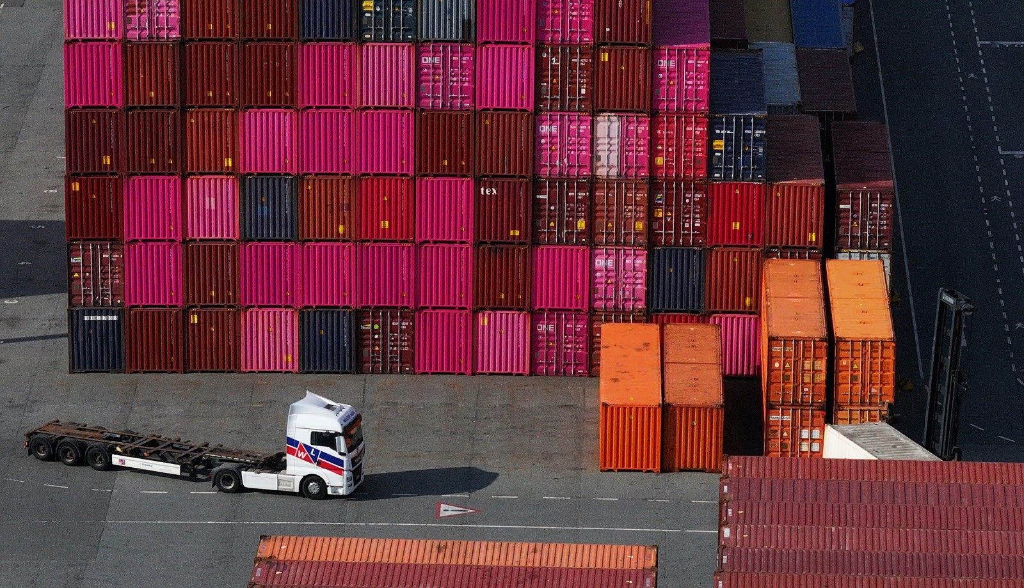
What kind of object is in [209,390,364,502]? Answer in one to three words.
truck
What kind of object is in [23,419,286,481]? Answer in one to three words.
trailer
